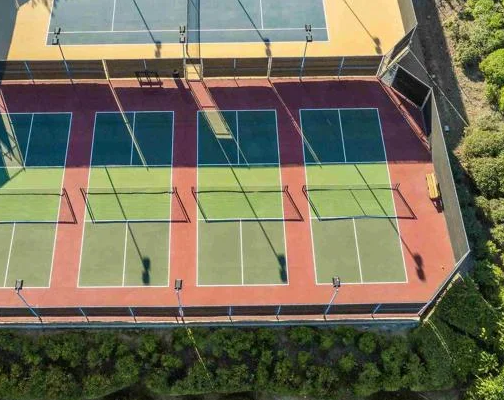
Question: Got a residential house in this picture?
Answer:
No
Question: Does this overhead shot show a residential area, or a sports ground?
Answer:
sports ground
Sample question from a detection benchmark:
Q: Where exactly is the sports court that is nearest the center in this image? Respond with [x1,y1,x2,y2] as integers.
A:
[197,110,289,285]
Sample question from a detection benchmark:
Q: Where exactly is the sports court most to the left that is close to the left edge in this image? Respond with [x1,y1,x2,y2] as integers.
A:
[0,113,72,288]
